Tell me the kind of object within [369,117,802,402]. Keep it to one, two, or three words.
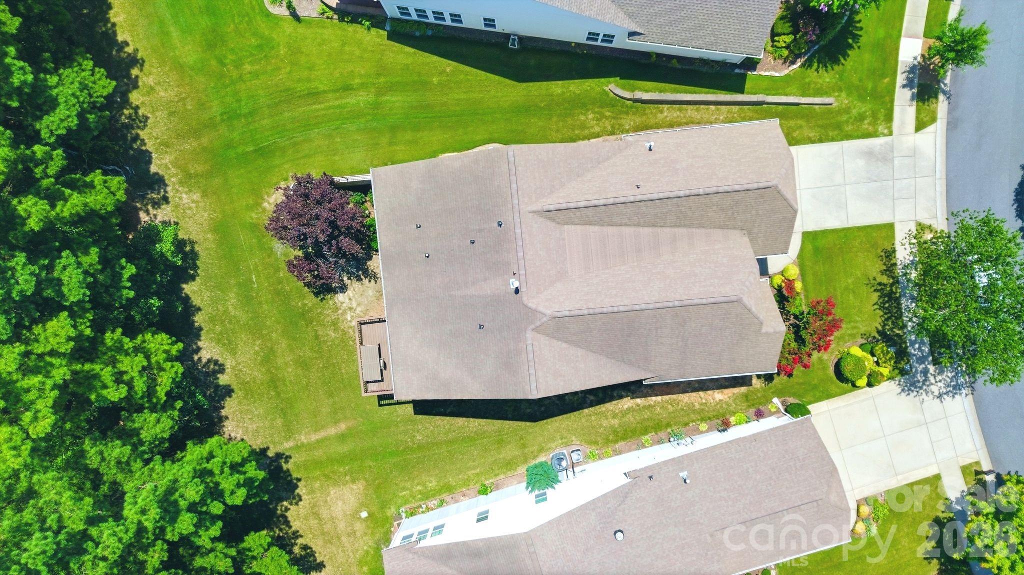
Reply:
house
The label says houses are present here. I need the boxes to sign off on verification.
[379,397,855,575]
[372,0,782,64]
[369,117,802,402]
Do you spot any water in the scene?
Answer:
No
